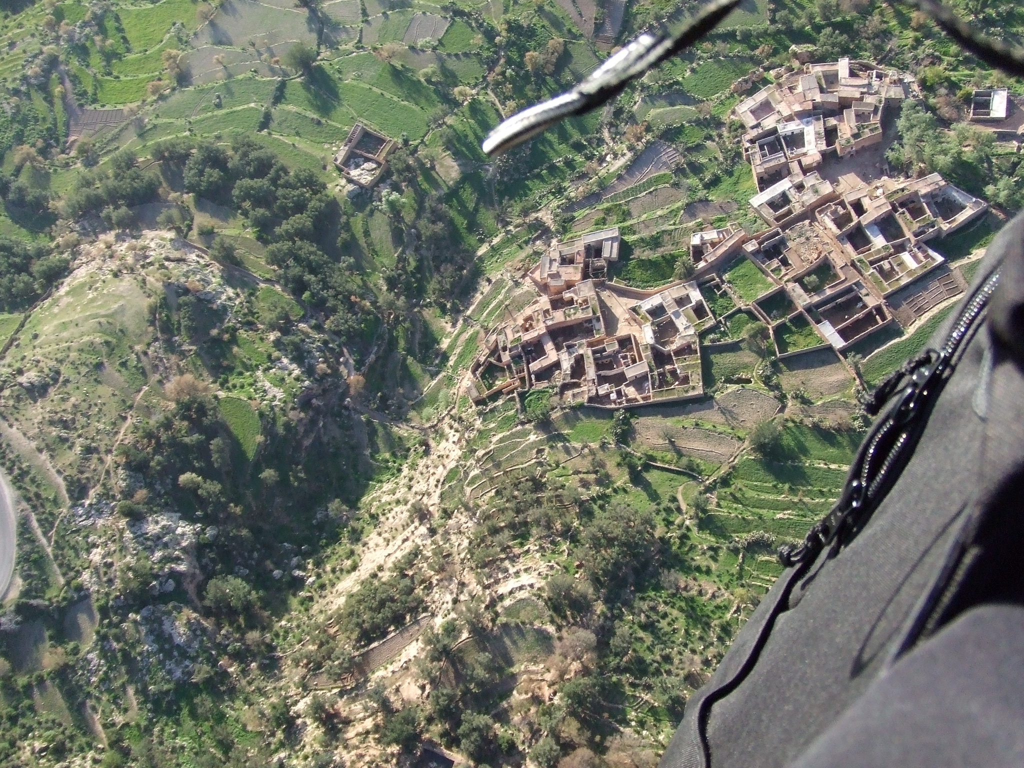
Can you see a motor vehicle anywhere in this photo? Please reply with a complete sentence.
No, no motor vehicle is visible in the scene.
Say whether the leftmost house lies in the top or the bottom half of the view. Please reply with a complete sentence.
The top half of the photo is where the leftmost house is.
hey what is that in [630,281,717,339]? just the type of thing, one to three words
house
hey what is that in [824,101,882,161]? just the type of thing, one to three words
house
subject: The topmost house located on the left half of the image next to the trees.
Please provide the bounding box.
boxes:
[333,124,396,200]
